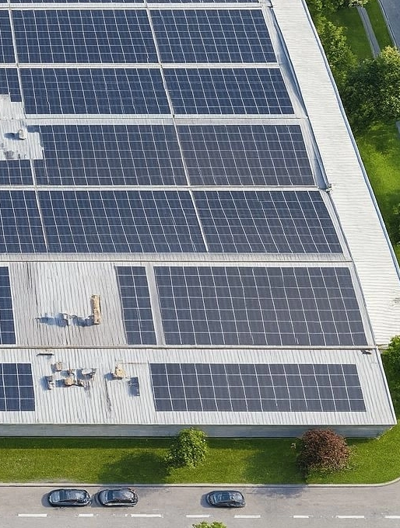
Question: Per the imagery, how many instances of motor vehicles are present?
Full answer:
The count of motor vehicles comes to 3.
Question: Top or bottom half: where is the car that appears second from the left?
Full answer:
The car that appears second from the left is in the bottom half of the image.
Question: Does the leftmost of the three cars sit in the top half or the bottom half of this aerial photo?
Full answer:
The bottom half of the photo is where the leftmost of the three cars is.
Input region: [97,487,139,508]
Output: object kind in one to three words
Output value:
car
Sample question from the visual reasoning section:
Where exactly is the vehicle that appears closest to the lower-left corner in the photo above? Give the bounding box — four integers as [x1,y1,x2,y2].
[48,488,92,509]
